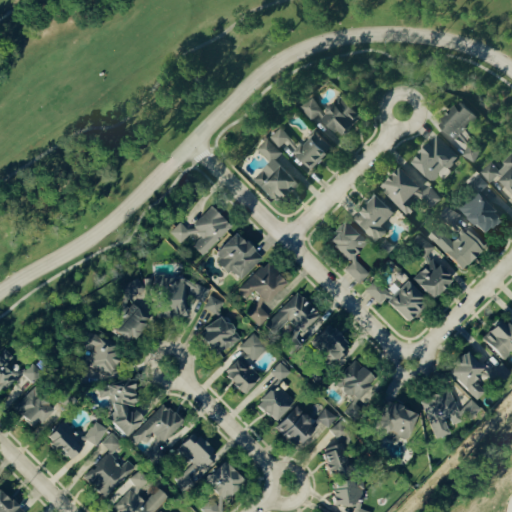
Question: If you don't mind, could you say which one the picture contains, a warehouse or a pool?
pool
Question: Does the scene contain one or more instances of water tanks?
No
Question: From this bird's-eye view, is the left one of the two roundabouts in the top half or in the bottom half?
bottom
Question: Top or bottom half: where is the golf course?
top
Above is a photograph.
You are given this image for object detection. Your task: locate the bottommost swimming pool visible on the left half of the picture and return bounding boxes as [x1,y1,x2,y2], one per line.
[136,437,156,456]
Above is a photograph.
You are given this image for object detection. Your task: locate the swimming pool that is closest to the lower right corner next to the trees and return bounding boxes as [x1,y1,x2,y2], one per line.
[381,440,413,462]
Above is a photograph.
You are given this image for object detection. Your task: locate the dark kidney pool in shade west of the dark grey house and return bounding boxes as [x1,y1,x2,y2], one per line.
[204,255,226,286]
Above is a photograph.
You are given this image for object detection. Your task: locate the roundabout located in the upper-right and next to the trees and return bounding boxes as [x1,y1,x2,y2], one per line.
[384,86,426,146]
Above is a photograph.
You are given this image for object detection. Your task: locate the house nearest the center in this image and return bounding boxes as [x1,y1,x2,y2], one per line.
[216,233,261,282]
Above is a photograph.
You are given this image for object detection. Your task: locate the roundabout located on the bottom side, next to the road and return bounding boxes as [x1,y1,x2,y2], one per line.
[262,455,315,512]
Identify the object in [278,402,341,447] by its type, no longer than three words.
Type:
house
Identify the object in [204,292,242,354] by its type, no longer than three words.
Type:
house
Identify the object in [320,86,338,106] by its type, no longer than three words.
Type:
swimming pool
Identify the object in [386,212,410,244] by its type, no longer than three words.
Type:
swimming pool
